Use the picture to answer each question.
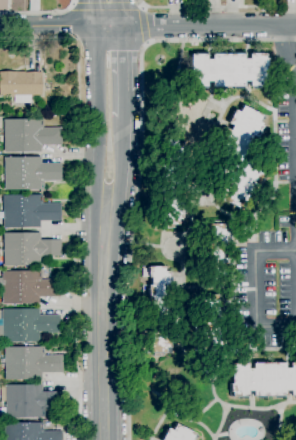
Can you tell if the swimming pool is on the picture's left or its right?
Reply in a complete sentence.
The swimming pool sits on the right side.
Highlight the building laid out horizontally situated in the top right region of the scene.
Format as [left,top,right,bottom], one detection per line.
[194,52,271,86]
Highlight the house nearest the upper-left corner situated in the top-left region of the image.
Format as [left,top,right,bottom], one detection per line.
[0,70,43,96]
